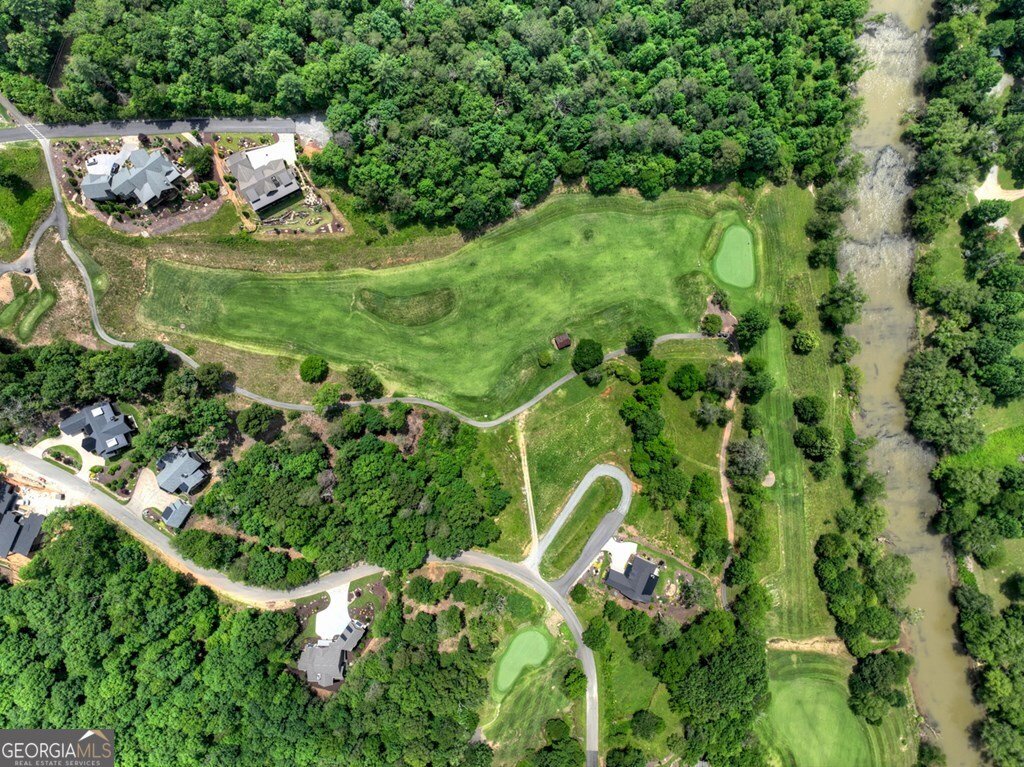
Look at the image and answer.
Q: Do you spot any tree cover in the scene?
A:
Yes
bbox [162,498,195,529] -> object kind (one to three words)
building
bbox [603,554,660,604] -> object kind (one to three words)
house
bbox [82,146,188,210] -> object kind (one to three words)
house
